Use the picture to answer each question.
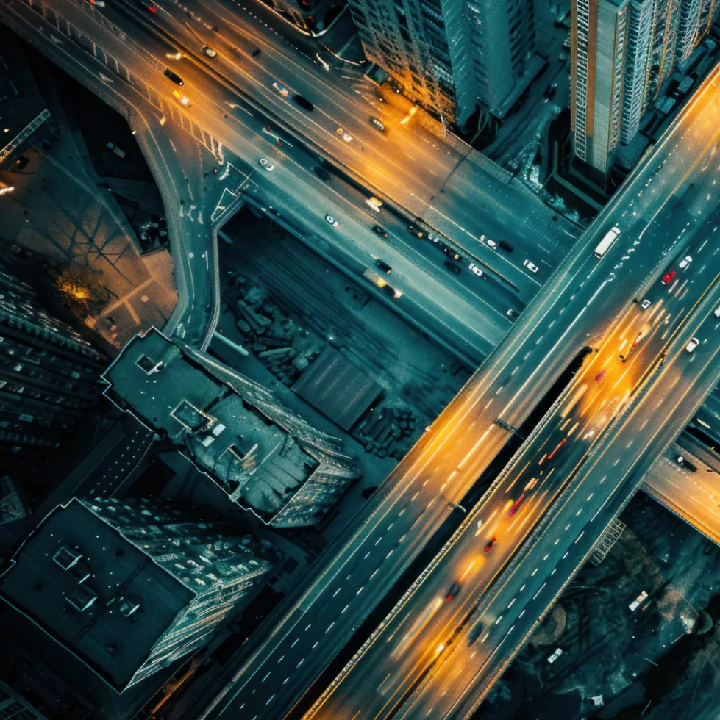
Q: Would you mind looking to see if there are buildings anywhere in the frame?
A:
Yes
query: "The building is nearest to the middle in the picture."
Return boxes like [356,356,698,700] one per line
[291,348,388,431]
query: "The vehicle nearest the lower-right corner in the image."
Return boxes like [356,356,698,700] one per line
[630,593,647,611]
